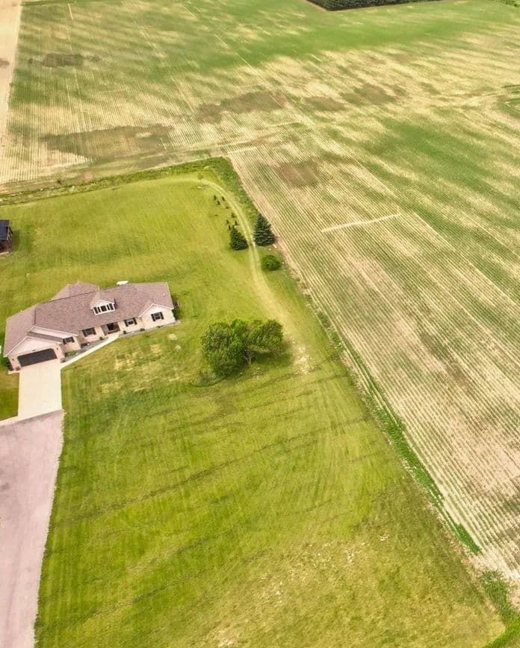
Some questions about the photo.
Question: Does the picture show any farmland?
Yes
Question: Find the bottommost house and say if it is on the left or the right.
left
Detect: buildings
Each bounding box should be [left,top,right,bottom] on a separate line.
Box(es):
[0,216,12,254]
[0,272,179,374]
